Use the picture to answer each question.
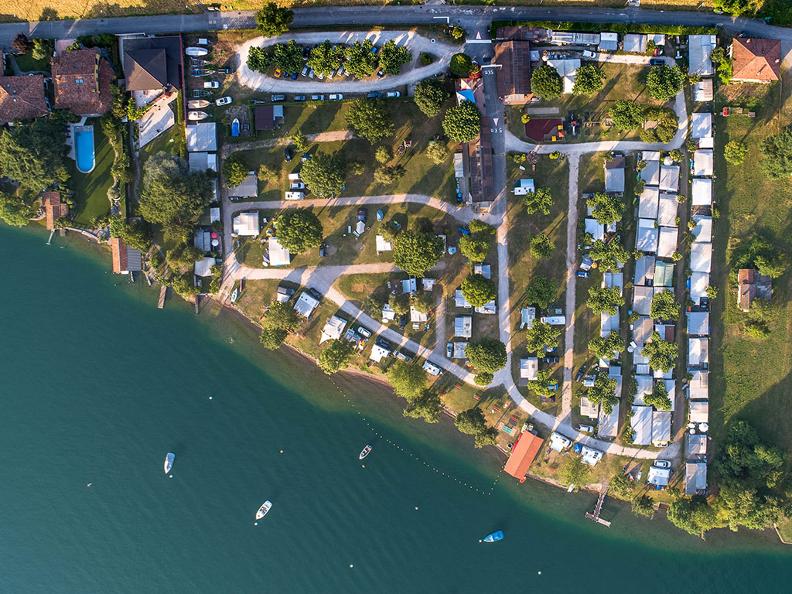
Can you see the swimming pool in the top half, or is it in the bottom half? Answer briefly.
top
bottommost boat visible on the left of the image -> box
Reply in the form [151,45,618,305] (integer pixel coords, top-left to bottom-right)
[257,500,272,519]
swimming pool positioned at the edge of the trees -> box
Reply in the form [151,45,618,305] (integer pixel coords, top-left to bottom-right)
[73,125,96,172]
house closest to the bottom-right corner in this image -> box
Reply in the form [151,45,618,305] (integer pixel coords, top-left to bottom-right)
[684,460,706,495]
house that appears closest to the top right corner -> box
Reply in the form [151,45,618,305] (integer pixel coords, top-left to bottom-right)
[730,37,783,82]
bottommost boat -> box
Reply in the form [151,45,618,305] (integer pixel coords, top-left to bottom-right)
[483,530,505,542]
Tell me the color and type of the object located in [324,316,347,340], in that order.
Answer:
white camper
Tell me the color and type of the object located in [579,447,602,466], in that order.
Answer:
white camper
